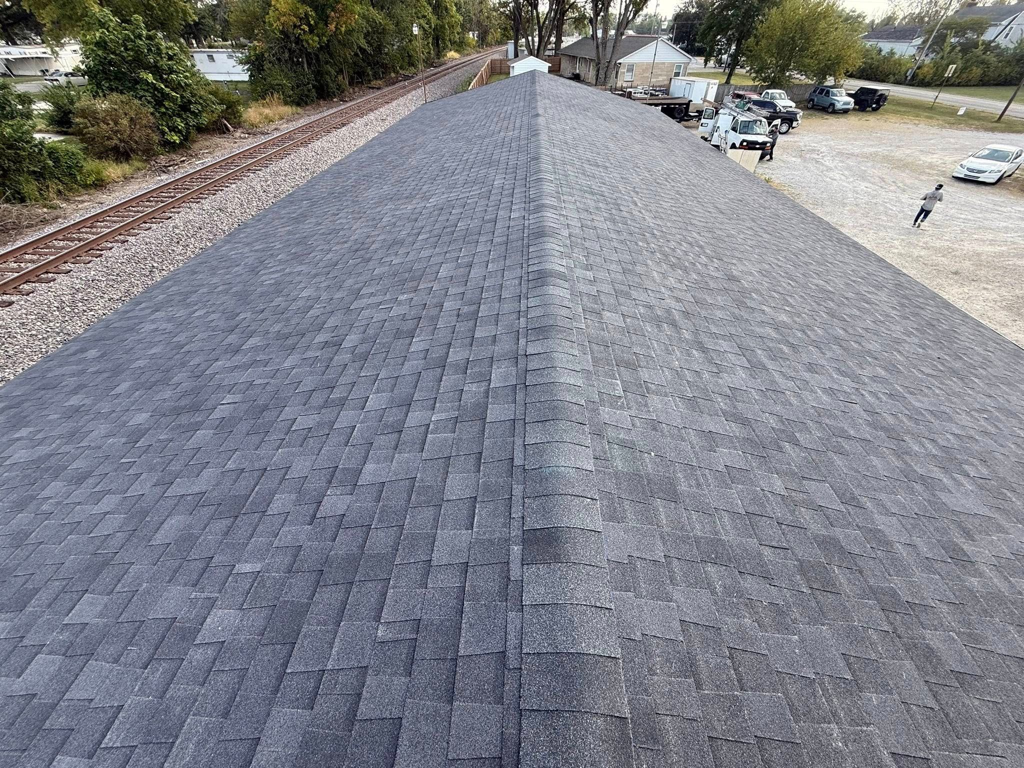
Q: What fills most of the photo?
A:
buildings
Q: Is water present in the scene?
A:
No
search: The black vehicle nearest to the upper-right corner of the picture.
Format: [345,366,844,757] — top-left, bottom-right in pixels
[848,85,889,110]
